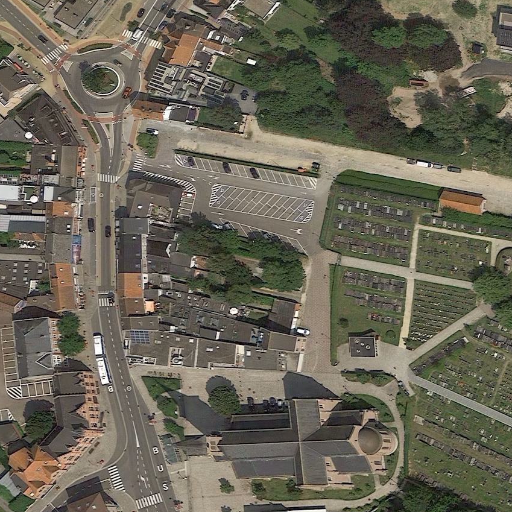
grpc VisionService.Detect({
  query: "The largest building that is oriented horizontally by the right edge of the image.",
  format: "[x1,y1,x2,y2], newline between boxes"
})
[439,190,489,214]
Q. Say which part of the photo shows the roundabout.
top left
